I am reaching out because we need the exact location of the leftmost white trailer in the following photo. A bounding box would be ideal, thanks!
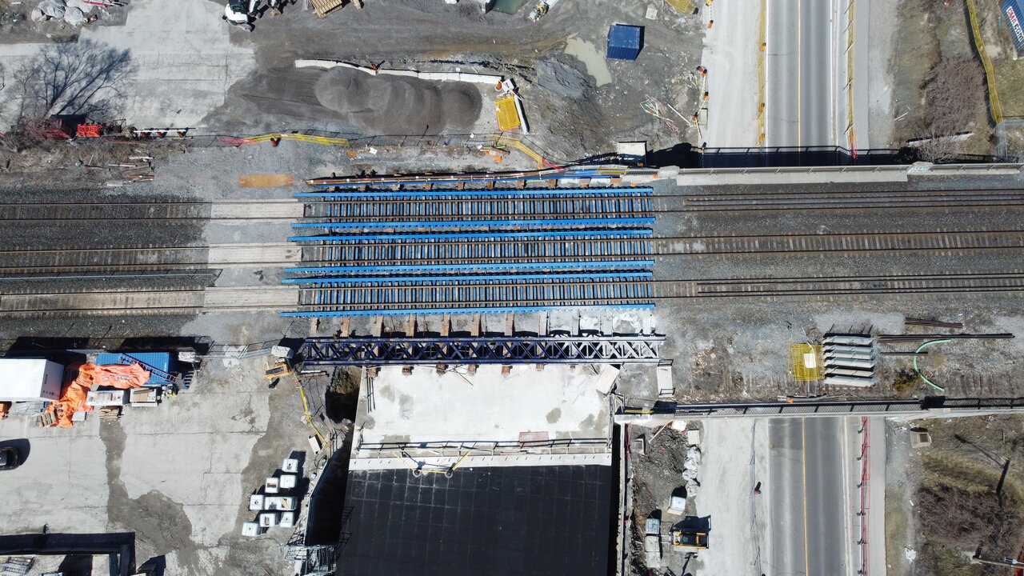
[0,360,60,405]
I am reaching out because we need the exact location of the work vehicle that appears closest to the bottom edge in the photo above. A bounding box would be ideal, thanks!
[672,523,716,548]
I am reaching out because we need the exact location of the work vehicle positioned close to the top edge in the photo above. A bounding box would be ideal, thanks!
[219,0,261,32]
